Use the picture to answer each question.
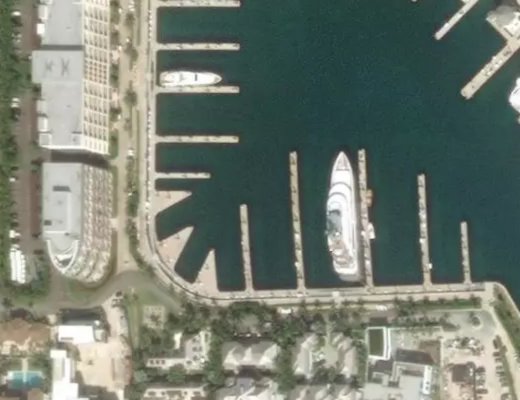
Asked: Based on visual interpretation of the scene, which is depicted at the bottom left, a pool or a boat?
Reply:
pool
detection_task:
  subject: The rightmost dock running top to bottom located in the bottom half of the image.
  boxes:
[461,222,473,283]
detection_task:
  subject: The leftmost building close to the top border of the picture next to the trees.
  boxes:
[32,0,110,155]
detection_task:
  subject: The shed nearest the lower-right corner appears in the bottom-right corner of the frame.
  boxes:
[452,363,471,384]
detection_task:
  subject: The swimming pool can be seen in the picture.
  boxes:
[6,357,43,390]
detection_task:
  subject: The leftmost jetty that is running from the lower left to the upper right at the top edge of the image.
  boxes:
[435,0,478,42]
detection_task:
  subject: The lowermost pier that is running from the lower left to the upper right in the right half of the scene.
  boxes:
[461,40,520,99]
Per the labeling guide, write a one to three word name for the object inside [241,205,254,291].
pier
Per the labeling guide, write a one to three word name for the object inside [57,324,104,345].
house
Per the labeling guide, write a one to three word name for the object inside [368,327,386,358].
sports court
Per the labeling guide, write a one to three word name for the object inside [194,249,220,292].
pier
